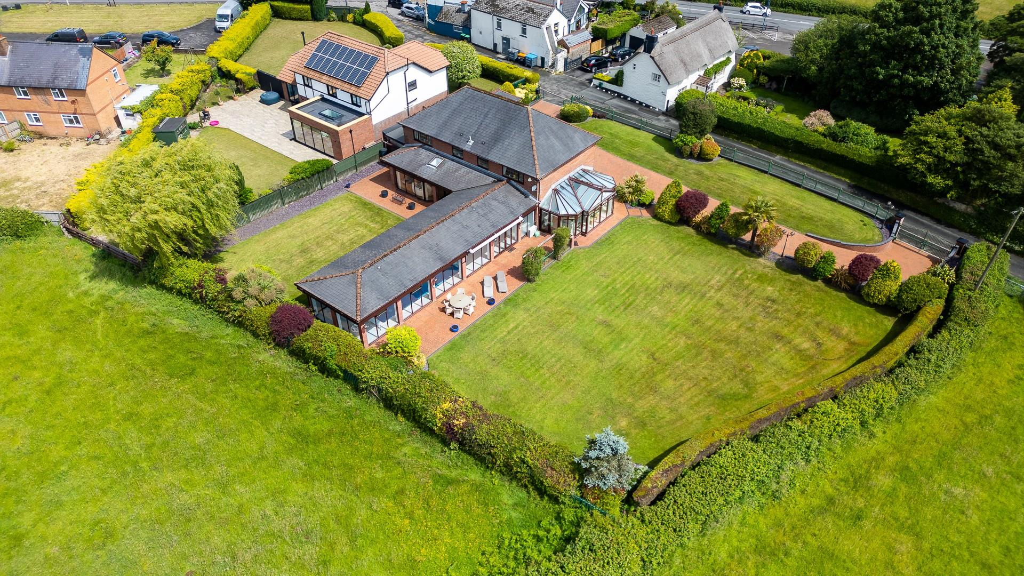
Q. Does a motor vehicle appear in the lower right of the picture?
No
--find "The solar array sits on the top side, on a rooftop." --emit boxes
[301,42,380,87]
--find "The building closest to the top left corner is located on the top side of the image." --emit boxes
[0,26,132,138]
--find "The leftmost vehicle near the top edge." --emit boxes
[41,24,86,42]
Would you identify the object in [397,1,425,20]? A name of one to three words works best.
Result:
car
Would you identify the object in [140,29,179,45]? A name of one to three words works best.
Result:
car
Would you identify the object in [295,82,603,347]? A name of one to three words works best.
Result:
house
